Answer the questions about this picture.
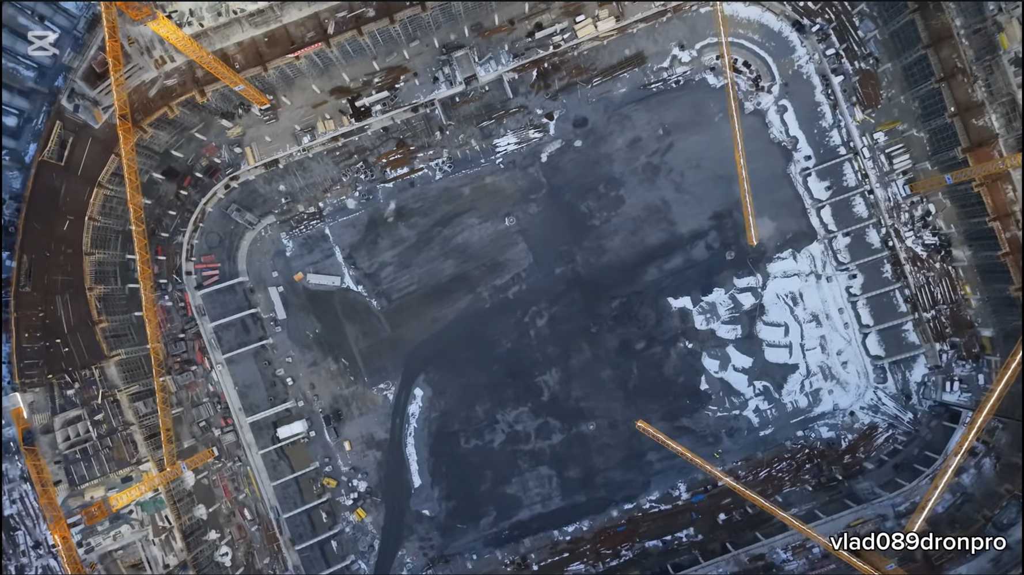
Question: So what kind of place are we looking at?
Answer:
sports ground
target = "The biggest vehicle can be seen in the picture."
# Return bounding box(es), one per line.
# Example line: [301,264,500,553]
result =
[273,419,311,442]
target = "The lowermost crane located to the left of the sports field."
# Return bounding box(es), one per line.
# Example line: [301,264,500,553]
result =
[13,395,226,575]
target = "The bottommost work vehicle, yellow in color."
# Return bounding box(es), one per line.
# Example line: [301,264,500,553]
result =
[321,476,339,489]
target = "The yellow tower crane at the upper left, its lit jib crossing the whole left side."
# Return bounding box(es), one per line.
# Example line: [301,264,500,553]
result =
[106,0,278,474]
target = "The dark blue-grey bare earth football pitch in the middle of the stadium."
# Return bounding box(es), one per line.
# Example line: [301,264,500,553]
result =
[293,83,815,556]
